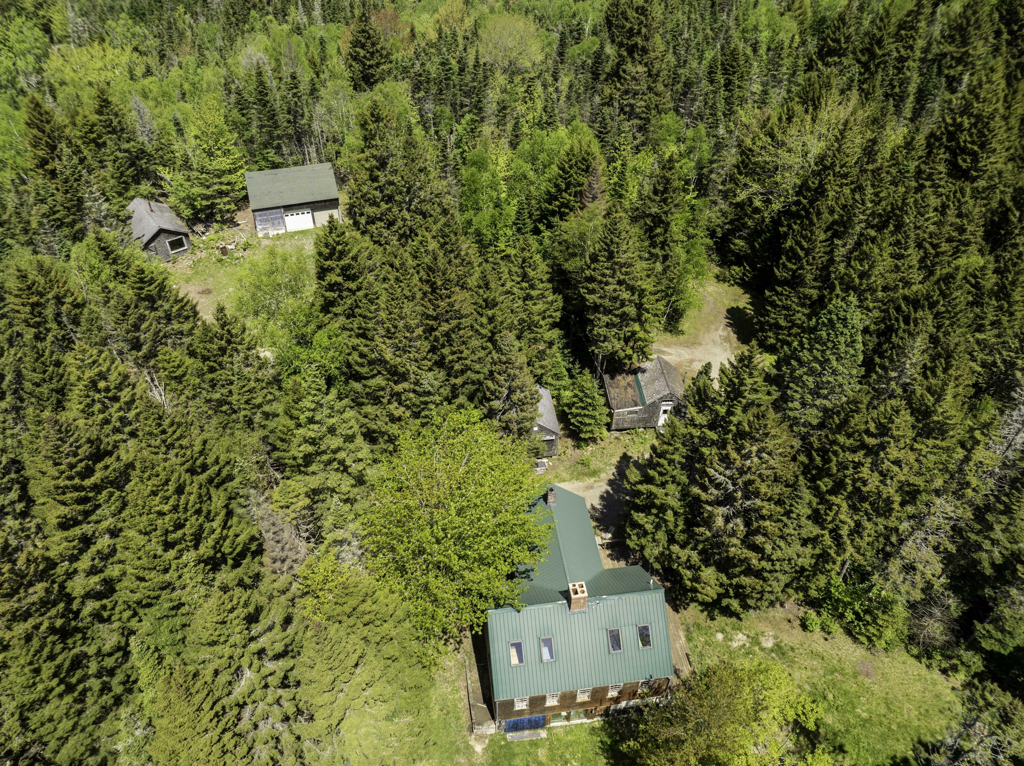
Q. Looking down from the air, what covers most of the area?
trees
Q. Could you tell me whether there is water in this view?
No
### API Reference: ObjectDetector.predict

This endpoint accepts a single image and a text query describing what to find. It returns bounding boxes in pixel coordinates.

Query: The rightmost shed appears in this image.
[604,356,688,432]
